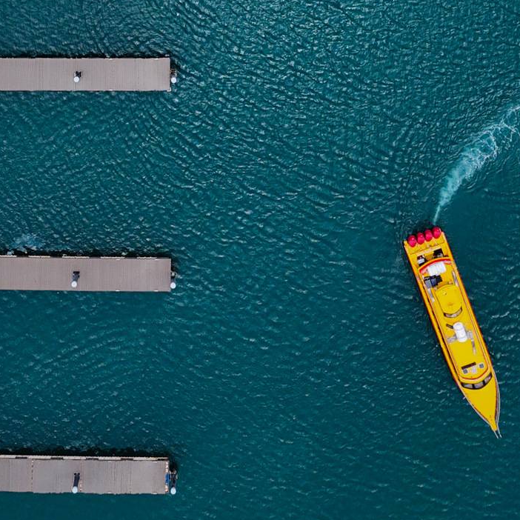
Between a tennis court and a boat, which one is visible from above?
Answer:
boat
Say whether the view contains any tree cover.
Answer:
No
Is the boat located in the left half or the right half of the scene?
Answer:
right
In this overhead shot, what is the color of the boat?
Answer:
yellow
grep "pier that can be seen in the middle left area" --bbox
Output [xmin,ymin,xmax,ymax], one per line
[0,250,172,291]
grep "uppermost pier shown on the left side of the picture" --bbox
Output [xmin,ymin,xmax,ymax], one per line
[0,52,172,91]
